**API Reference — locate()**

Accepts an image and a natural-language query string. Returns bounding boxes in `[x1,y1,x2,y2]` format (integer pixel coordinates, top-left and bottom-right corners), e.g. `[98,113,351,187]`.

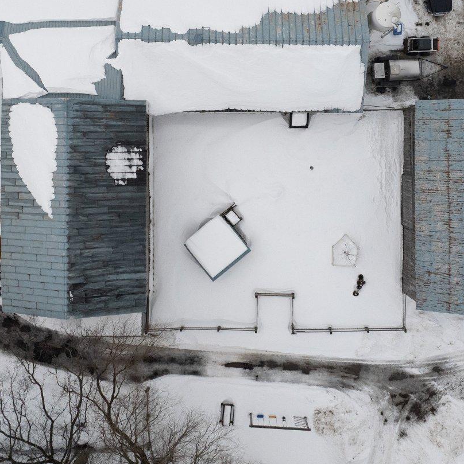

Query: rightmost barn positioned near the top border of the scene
[116,0,370,115]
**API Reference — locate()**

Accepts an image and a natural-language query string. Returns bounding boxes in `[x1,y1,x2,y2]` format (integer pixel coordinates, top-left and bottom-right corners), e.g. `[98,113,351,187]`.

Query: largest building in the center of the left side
[1,98,151,320]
